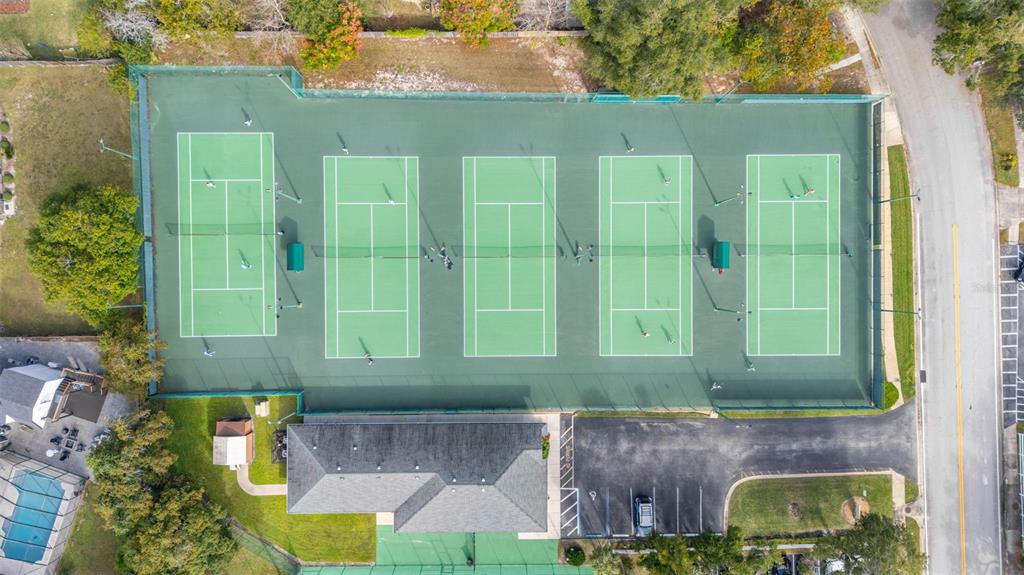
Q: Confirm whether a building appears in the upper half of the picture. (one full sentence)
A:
No, I see no building in the upper half of the picture.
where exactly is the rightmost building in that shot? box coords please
[287,410,547,533]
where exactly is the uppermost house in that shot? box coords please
[0,364,65,428]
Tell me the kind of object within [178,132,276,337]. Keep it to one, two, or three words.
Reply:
tennis court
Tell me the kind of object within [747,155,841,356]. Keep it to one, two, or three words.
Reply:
tennis court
